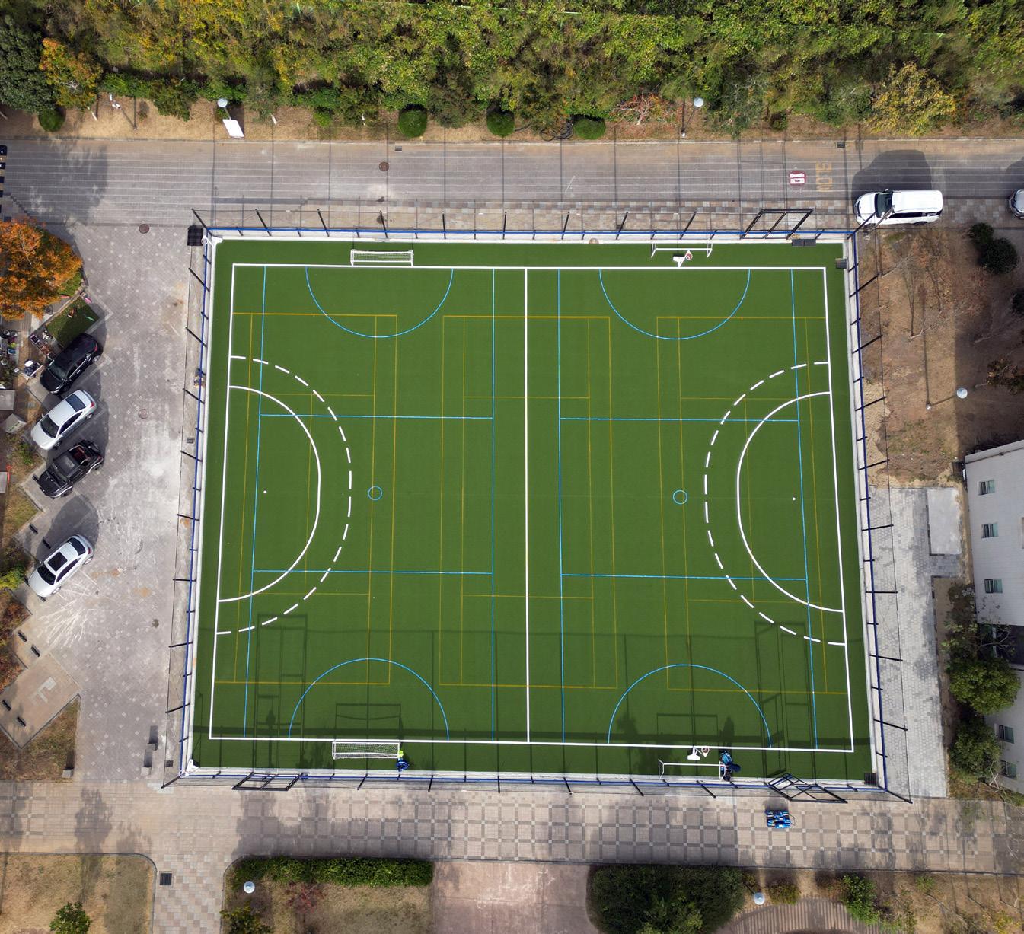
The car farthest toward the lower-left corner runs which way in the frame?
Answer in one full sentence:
The car farthest toward the lower-left corner runs at an angle in the image.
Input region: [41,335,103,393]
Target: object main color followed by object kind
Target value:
black car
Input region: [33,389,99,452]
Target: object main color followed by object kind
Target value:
white car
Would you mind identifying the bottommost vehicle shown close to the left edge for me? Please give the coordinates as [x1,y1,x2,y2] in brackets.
[30,535,97,600]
